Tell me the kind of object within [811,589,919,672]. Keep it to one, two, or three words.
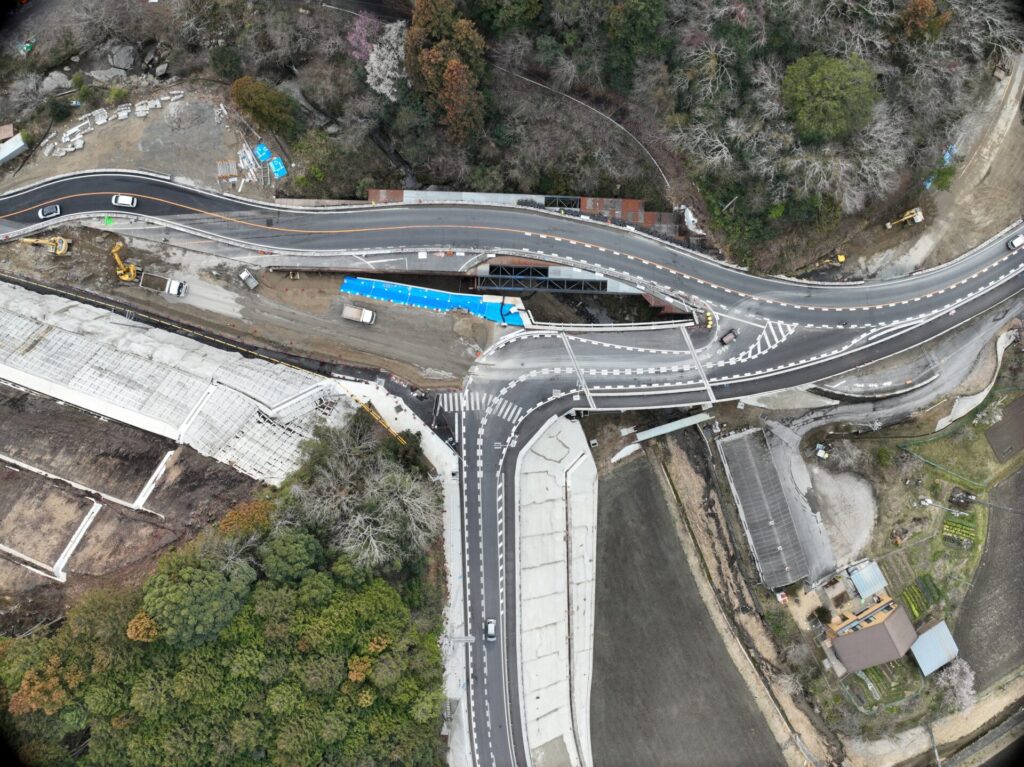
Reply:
house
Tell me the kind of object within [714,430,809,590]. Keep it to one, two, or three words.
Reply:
shed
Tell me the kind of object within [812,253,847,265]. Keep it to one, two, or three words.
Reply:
vehicle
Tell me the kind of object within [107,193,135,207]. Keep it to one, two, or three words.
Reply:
car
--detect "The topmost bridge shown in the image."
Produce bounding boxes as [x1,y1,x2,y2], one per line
[519,296,700,333]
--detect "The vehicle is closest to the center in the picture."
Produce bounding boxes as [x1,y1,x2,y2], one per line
[337,304,374,325]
